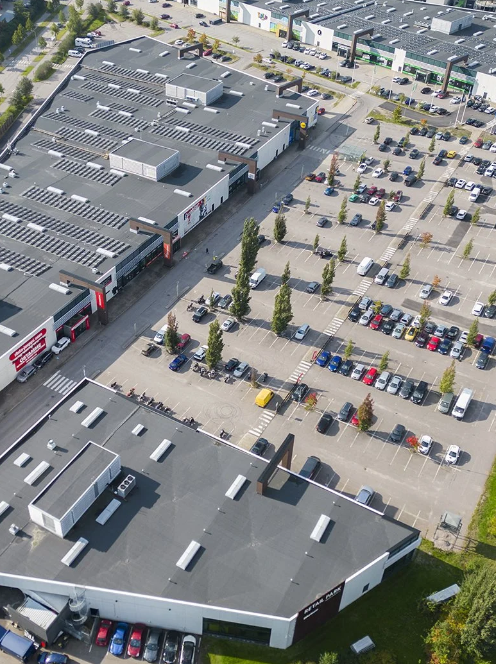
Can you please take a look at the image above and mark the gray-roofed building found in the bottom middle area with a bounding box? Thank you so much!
[0,380,425,650]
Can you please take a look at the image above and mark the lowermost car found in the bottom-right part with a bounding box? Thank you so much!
[357,485,375,507]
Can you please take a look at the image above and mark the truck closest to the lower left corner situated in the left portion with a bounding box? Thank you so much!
[0,627,41,664]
